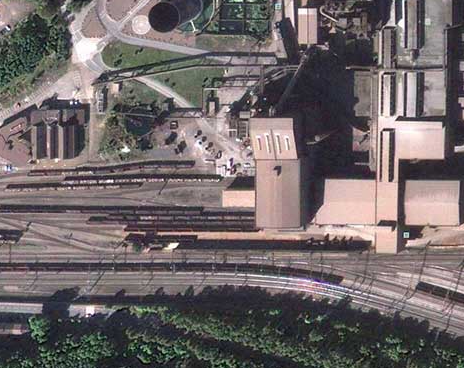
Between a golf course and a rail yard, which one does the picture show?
rail yard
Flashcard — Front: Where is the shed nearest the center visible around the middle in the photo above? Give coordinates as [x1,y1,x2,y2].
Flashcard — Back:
[222,187,255,206]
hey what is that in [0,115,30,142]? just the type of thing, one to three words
building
